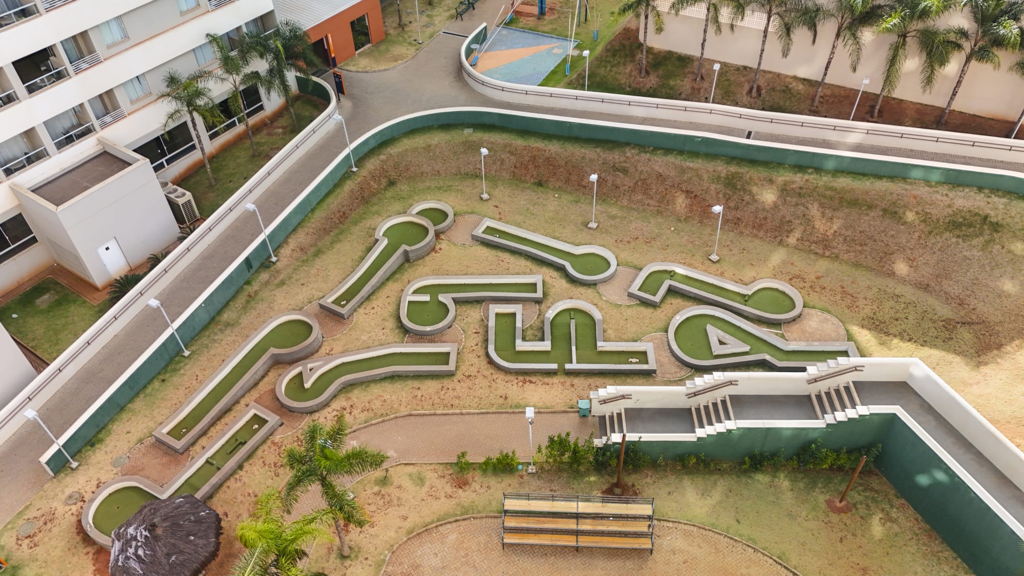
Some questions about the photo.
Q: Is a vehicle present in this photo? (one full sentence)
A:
No, I can't see a single vehicle in this photo.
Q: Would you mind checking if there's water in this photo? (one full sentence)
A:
No, the scene doesn't show any water.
